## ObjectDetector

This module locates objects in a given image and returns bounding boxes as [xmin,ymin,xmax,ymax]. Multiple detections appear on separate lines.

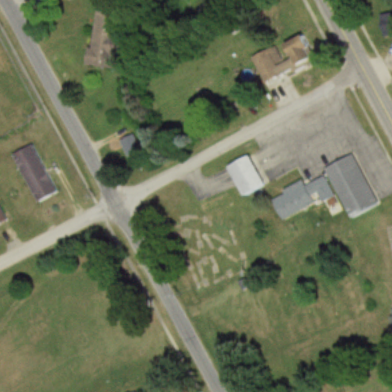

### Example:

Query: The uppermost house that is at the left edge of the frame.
[13,144,58,202]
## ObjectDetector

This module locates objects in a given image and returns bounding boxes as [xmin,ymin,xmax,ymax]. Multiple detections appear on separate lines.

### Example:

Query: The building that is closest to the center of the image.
[226,156,264,198]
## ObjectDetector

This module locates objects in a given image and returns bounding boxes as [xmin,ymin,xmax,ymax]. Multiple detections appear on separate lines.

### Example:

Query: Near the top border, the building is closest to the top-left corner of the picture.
[85,12,112,70]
